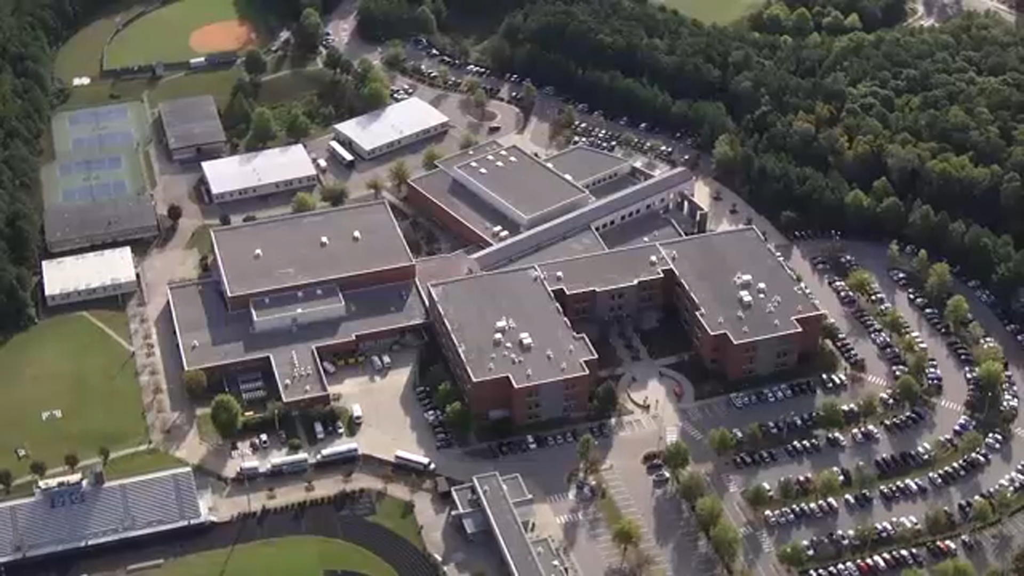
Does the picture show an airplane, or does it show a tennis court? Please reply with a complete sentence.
The image shows a tennis court.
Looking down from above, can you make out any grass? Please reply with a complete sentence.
Yes, there is grass in the image.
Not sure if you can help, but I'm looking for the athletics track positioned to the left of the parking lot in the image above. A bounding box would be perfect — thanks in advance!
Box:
[3,508,438,576]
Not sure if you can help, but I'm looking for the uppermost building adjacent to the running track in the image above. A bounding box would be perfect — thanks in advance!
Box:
[168,141,827,424]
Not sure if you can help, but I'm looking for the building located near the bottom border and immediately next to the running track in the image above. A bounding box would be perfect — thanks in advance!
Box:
[451,472,569,576]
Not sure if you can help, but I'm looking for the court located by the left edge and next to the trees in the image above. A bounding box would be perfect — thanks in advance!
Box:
[45,100,153,204]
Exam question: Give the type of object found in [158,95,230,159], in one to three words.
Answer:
building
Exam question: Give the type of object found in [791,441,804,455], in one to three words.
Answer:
vehicle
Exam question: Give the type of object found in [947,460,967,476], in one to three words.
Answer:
vehicle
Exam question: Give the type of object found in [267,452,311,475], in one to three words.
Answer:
bus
